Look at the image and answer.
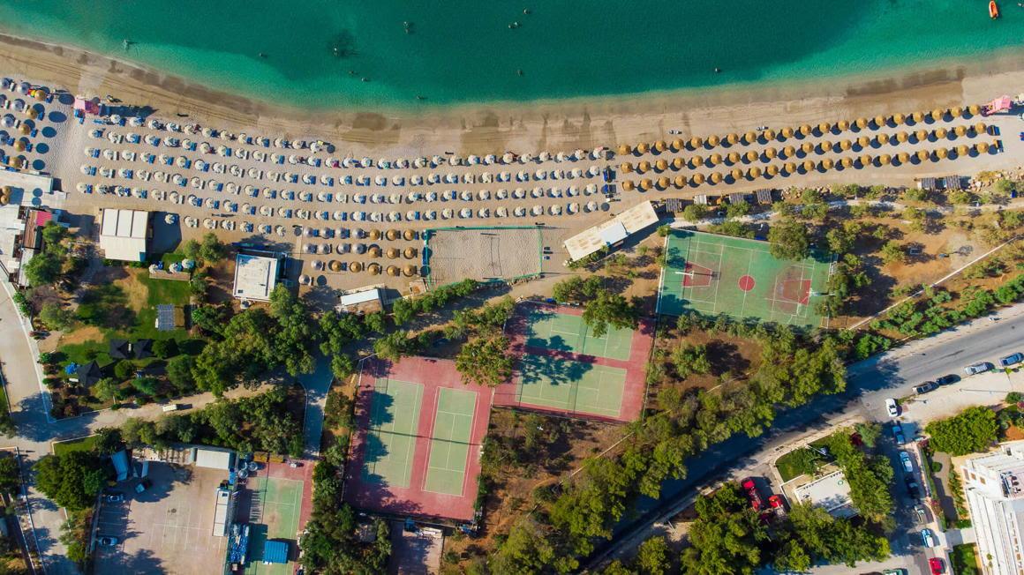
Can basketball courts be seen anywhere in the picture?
Yes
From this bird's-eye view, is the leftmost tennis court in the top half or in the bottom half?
bottom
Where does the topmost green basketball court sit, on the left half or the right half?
right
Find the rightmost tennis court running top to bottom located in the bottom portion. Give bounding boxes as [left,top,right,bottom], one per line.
[415,360,497,520]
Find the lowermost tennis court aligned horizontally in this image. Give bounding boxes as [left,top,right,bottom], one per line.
[492,350,642,423]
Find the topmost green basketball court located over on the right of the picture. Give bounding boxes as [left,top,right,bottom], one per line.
[657,229,834,328]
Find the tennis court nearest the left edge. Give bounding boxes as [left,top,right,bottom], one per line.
[233,461,315,575]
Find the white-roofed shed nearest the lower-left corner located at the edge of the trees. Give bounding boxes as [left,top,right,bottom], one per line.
[191,447,237,469]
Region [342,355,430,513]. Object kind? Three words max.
tennis court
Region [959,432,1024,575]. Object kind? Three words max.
building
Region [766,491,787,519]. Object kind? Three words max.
truck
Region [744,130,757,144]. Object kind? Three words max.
umbrella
